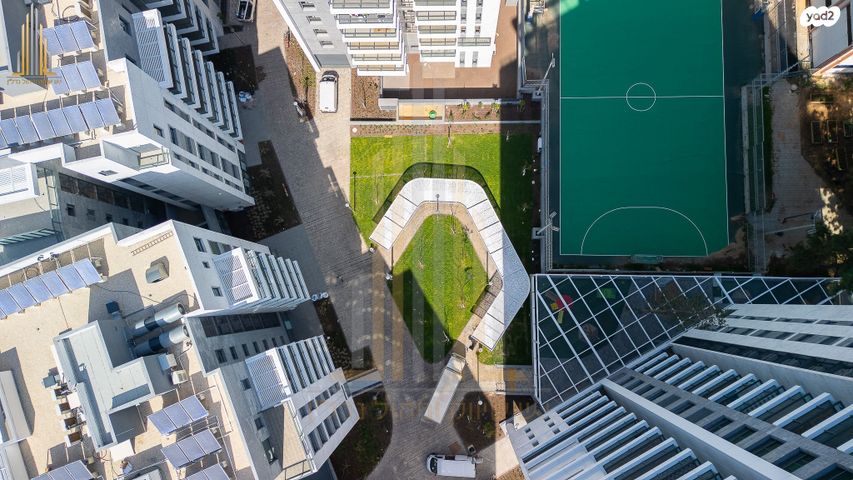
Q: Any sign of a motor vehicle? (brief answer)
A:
Yes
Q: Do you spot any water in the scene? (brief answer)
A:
No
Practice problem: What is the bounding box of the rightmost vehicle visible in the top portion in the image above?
[317,72,337,110]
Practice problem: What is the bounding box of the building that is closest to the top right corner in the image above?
[793,0,853,80]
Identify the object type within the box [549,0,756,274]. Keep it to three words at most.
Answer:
sports court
